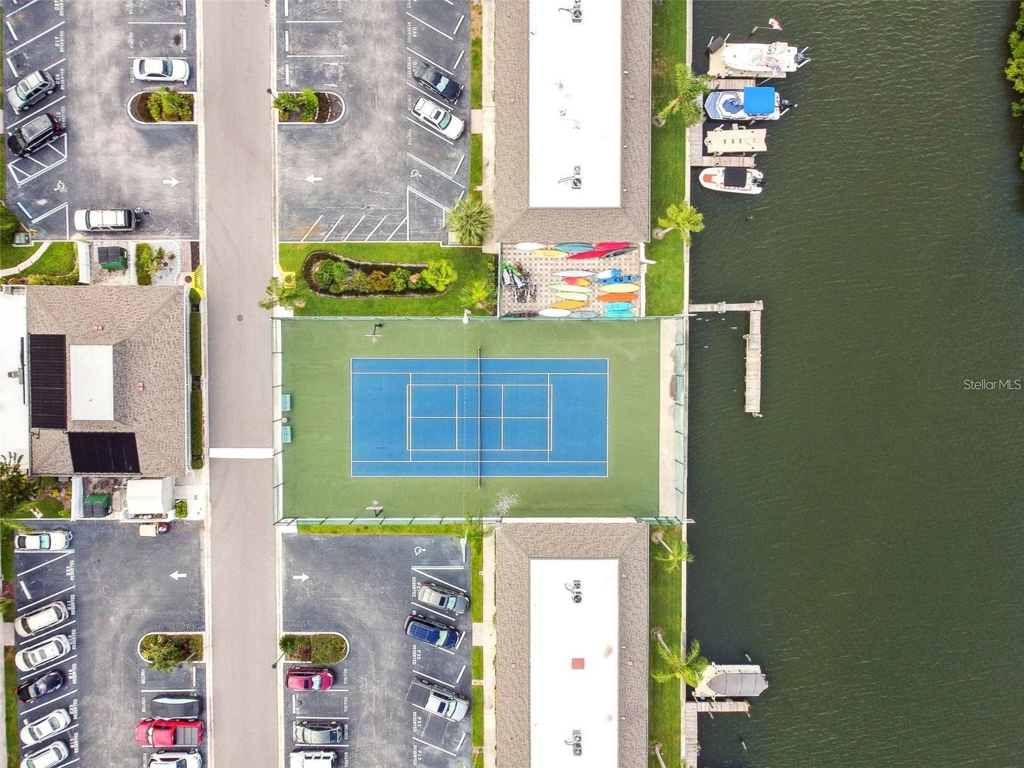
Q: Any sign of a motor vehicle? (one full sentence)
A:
Yes, you can see a motor vehicle in this photo.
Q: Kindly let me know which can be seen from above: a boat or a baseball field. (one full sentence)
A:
This aerial view contains a boat.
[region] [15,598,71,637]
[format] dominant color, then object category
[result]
white car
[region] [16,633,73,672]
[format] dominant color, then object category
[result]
white car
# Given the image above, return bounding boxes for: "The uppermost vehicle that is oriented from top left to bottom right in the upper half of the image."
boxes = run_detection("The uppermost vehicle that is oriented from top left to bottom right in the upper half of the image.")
[412,62,464,105]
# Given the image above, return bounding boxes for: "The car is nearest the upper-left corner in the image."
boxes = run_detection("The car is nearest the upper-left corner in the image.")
[6,70,59,111]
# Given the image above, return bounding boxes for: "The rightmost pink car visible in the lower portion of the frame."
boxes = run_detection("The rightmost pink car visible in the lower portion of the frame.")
[286,666,335,694]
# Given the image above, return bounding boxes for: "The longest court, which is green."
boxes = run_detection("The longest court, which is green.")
[282,321,677,517]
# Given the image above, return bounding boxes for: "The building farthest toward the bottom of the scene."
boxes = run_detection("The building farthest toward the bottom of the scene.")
[495,522,650,768]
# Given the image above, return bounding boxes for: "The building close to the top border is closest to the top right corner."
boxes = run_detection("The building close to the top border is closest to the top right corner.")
[494,0,653,243]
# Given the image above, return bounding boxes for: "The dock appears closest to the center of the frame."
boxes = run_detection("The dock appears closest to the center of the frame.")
[689,300,763,418]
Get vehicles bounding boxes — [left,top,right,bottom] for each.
[18,737,74,768]
[296,720,344,748]
[133,56,191,83]
[412,62,464,105]
[290,748,338,768]
[404,615,460,650]
[286,666,335,694]
[136,522,172,539]
[417,583,470,616]
[14,667,69,706]
[411,96,465,140]
[136,718,204,749]
[405,679,470,720]
[149,750,204,768]
[15,598,71,637]
[15,529,73,554]
[6,70,59,111]
[16,633,73,672]
[74,205,135,233]
[21,706,75,745]
[8,114,66,157]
